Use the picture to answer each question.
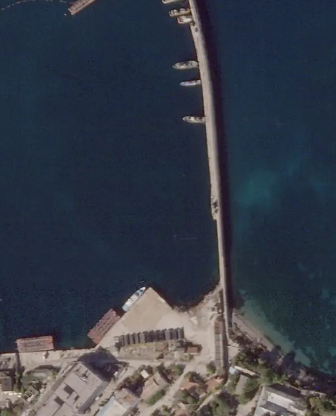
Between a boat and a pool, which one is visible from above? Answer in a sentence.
The image shows a boat.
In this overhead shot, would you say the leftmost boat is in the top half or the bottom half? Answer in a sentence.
The bottom half of the photo is where the leftmost boat is.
